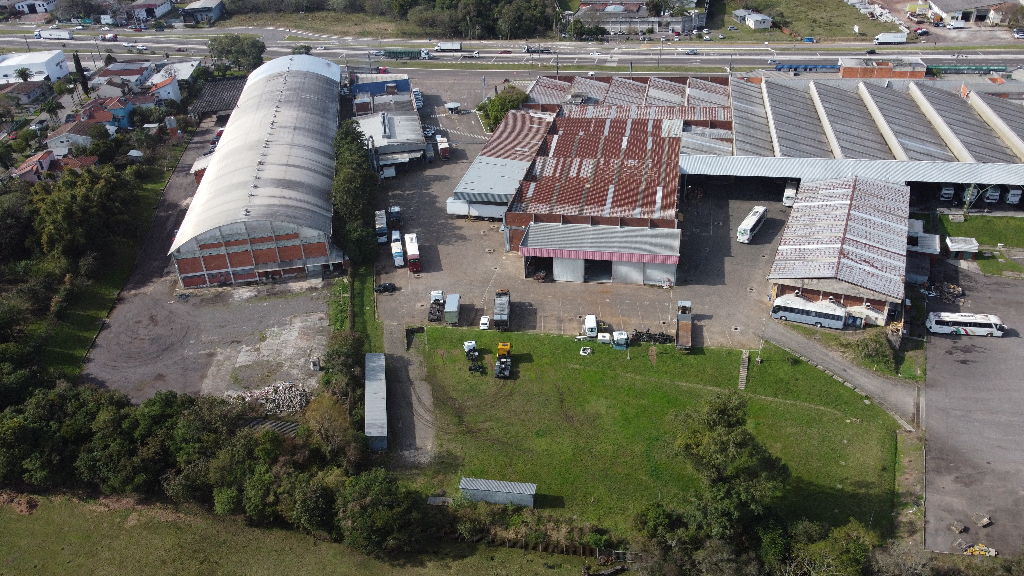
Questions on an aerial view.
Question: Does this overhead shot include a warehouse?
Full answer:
Yes, the image includes a warehouse.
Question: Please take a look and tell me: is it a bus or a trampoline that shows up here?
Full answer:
Looking from above, you can make out a bus.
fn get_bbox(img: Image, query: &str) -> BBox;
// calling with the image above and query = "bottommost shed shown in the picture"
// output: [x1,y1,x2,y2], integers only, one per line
[457,474,539,508]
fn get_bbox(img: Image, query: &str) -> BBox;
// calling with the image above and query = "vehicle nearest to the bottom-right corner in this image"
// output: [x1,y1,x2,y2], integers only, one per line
[928,309,1011,336]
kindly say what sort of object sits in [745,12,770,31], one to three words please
house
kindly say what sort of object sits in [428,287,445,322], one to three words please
vehicle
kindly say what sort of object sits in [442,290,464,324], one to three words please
truck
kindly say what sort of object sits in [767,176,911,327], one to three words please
building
